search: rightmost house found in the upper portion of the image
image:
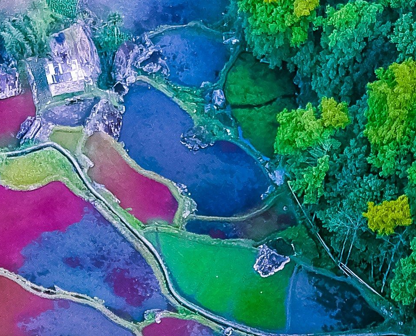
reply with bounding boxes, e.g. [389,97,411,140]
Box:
[48,27,104,104]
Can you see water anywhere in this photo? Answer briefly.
Yes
